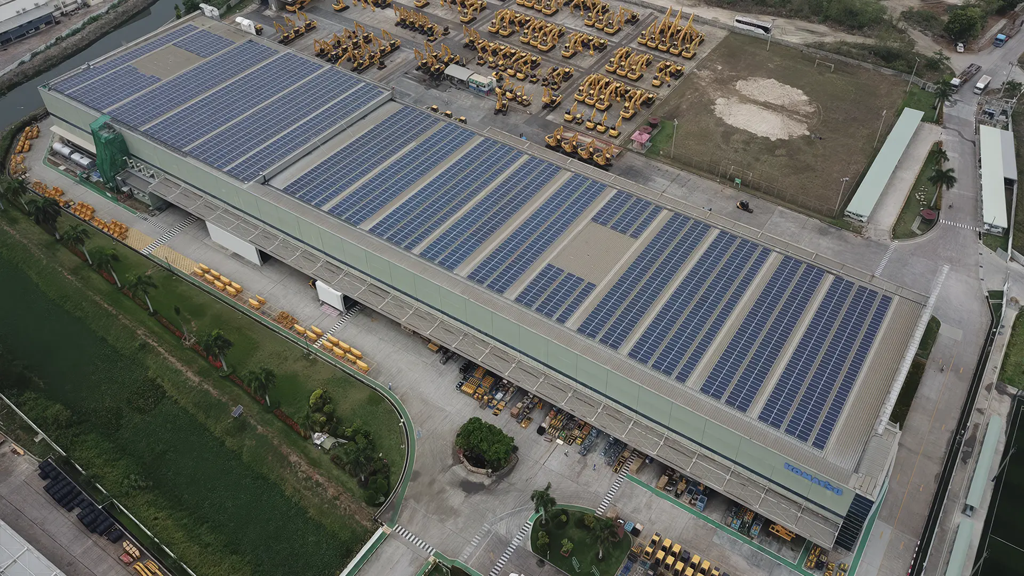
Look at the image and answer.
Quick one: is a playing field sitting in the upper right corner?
Yes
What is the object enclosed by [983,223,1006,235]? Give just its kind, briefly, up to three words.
vehicle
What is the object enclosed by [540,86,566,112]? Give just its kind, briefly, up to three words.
work vehicle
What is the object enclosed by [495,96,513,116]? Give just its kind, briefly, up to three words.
work vehicle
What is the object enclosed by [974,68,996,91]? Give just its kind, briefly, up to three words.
truck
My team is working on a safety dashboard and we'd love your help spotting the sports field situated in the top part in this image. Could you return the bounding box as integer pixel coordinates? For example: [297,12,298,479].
[619,36,911,228]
